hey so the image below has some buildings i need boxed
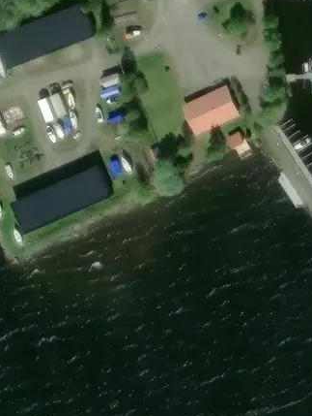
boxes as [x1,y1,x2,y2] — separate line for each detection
[10,164,119,234]
[183,85,241,136]
[227,131,247,150]
[0,3,99,68]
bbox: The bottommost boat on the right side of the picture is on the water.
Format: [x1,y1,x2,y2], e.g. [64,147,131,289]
[295,136,312,149]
